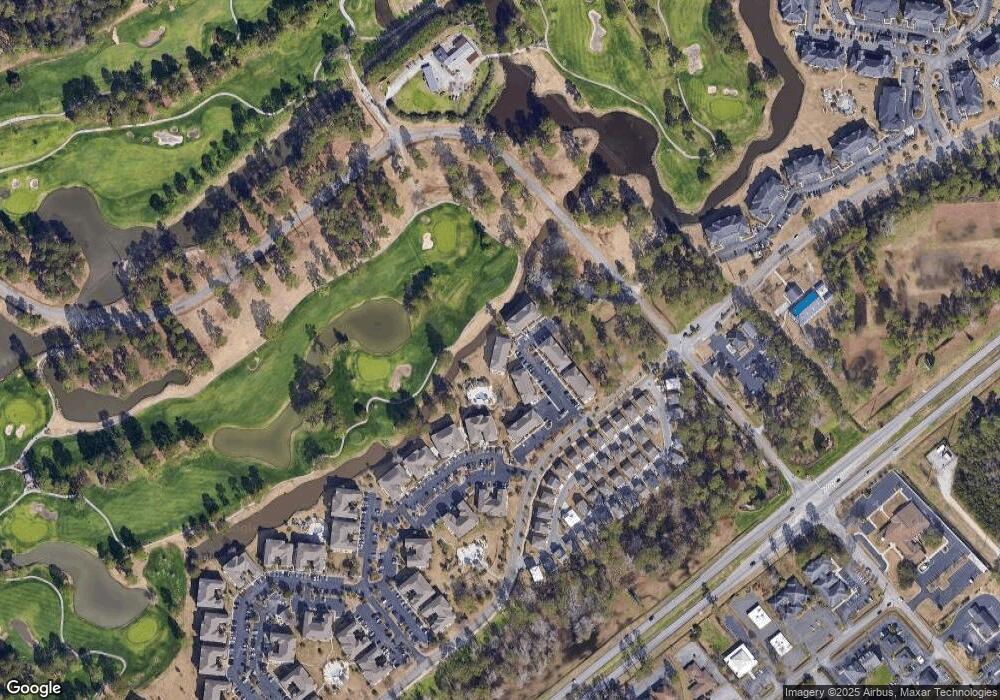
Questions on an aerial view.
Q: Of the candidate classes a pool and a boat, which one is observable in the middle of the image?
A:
pool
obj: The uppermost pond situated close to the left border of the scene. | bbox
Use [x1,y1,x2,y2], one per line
[37,186,226,306]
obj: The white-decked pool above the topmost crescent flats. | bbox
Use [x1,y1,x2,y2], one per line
[466,386,496,407]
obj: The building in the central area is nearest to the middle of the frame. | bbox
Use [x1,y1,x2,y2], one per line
[490,337,512,377]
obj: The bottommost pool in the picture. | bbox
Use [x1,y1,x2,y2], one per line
[323,661,349,685]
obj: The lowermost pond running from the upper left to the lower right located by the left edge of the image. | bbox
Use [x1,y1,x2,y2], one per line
[0,541,150,628]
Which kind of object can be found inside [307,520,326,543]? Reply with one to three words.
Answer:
swimming pool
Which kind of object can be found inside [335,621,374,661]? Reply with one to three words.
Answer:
building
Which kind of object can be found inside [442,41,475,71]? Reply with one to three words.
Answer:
barn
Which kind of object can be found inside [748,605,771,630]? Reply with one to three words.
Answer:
building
